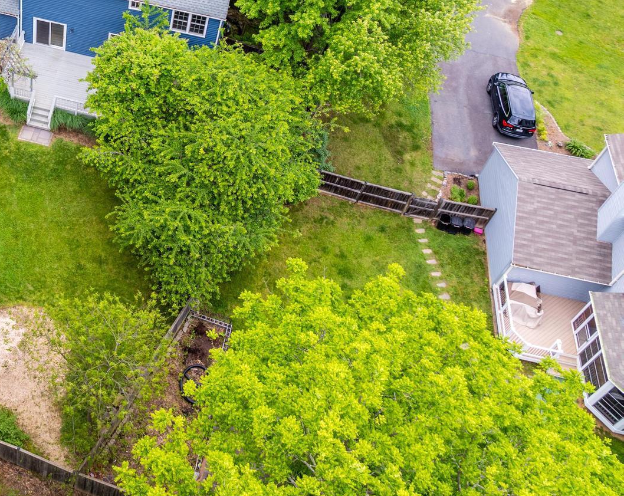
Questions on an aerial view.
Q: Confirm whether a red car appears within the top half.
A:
No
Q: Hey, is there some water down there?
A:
No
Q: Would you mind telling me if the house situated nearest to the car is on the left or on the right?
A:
right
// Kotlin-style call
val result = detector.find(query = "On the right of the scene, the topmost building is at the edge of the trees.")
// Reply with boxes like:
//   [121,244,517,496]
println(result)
[477,133,624,298]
